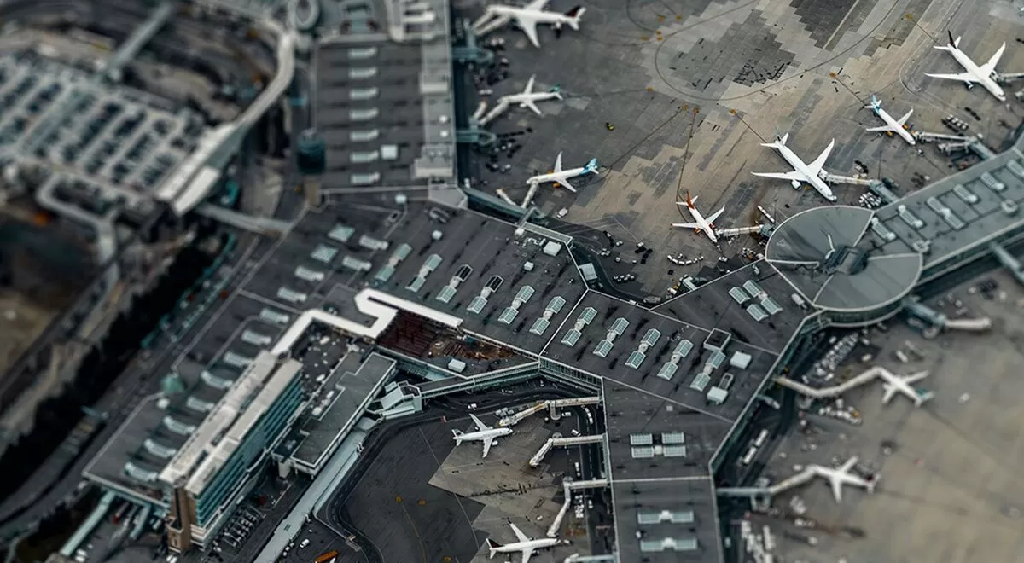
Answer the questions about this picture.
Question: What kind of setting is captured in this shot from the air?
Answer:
airport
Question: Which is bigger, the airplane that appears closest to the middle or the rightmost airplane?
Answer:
the rightmost airplane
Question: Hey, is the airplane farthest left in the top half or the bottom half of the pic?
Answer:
bottom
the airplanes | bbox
[926,36,1006,102]
[670,201,724,244]
[449,411,513,457]
[815,457,876,500]
[497,74,563,116]
[754,132,837,201]
[490,0,582,42]
[864,100,915,145]
[486,519,561,563]
[876,370,929,410]
[540,151,599,194]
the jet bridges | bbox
[467,12,517,42]
[466,9,501,54]
[470,98,513,138]
[933,140,976,159]
[912,131,996,156]
[560,553,616,563]
[771,366,886,404]
[518,177,541,211]
[713,224,771,244]
[940,319,997,337]
[759,465,820,499]
[820,173,878,189]
[991,71,1024,87]
[494,393,602,431]
[544,478,609,541]
[524,433,605,471]
[468,97,490,125]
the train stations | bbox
[159,107,254,226]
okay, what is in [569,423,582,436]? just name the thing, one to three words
vehicle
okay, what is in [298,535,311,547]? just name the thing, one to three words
vehicle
